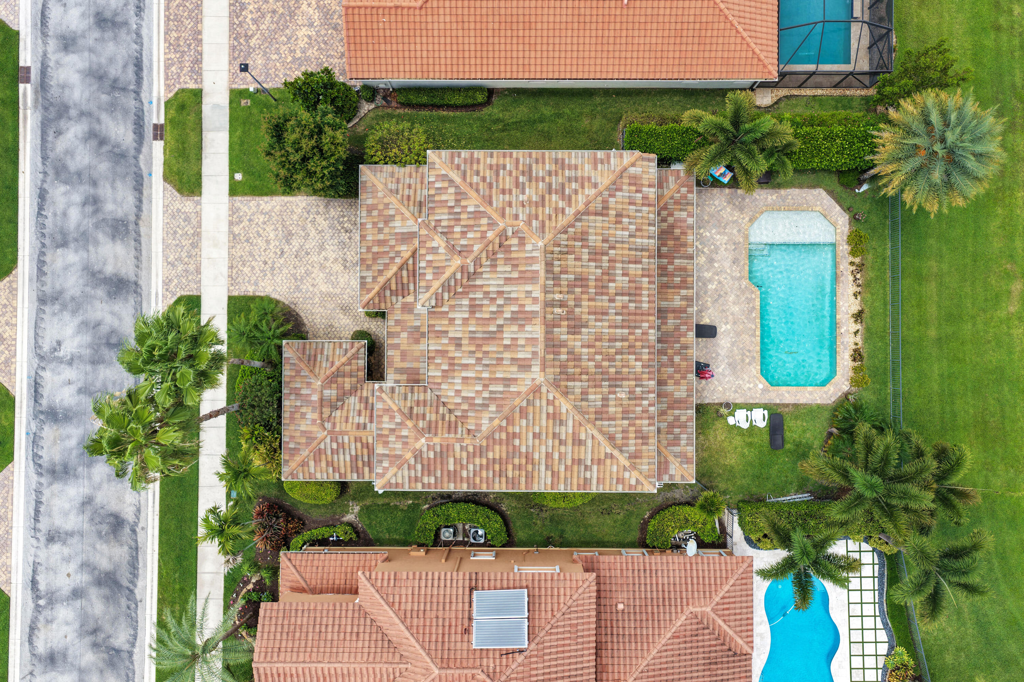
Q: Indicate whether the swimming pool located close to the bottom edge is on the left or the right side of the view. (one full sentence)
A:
The swimming pool located close to the bottom edge is on the right side of the image.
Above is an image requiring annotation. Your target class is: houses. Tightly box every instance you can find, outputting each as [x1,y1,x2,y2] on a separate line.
[341,0,781,88]
[281,148,697,494]
[250,542,756,682]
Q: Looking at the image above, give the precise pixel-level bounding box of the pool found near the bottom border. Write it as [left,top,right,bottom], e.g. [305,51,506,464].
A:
[753,565,846,682]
